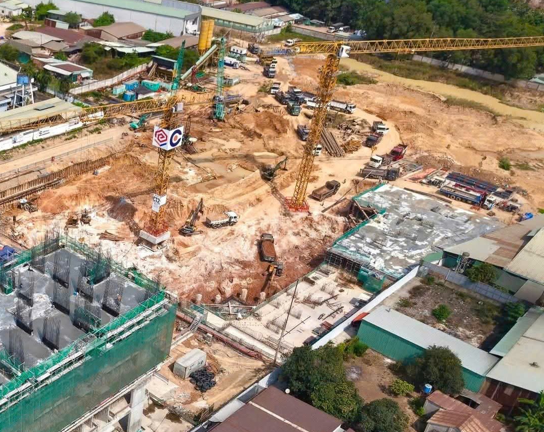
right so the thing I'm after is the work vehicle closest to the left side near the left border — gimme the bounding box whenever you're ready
[5,193,34,212]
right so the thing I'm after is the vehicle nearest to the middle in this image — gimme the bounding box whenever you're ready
[260,231,278,257]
